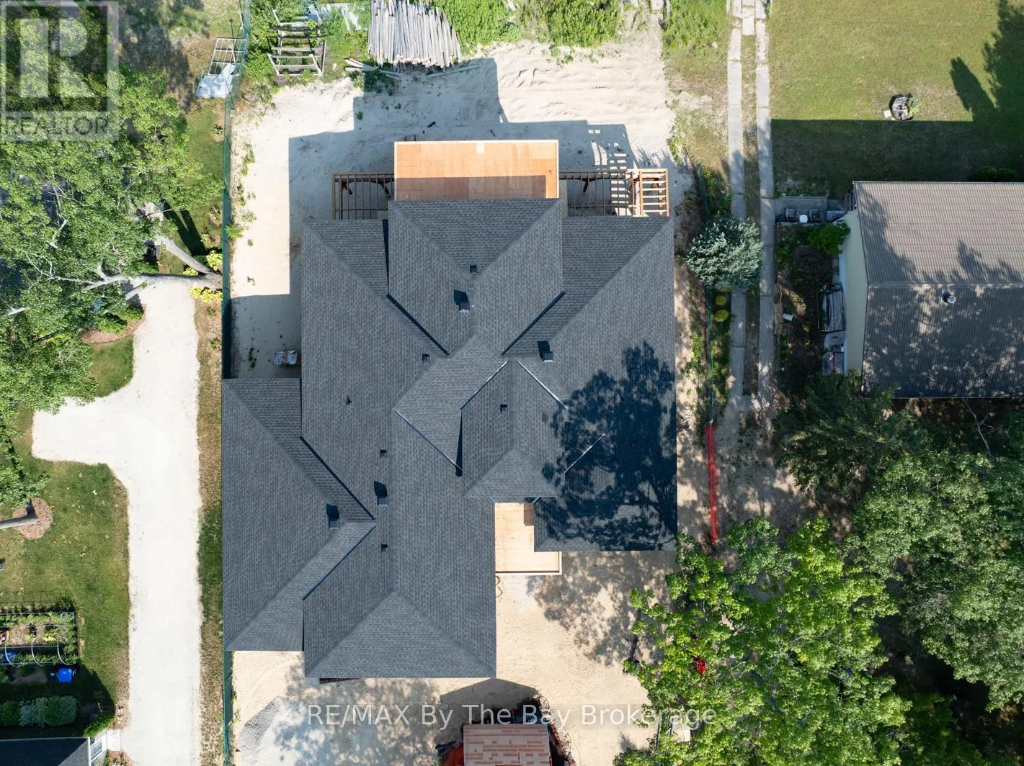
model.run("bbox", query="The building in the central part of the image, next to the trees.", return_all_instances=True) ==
[220,140,677,680]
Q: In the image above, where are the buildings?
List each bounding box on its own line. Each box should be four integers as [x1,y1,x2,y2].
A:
[0,733,106,766]
[220,140,677,680]
[841,179,1024,400]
